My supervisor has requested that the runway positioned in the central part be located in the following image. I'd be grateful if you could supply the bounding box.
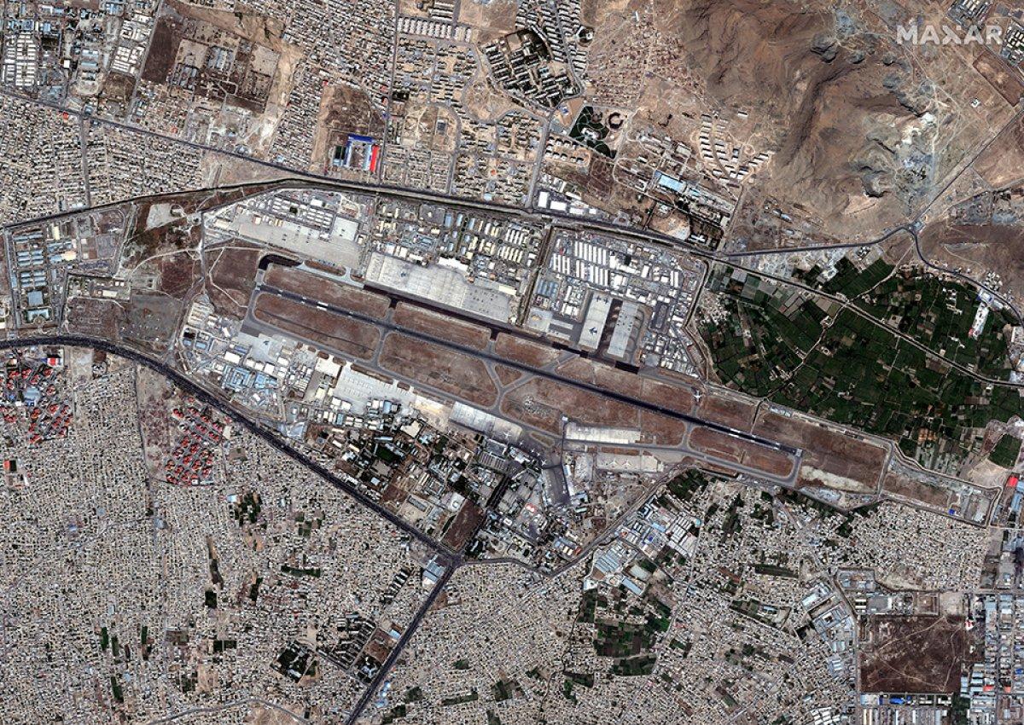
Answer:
[256,283,801,456]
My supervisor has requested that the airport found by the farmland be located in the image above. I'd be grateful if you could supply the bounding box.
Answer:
[213,205,887,507]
